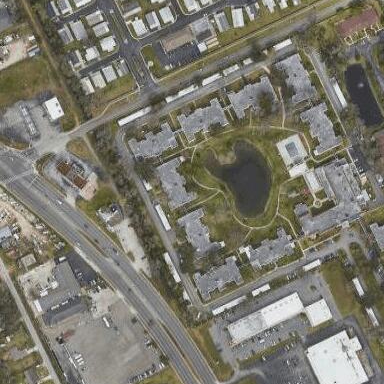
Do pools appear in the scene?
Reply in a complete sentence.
Yes, the picture does show a pool.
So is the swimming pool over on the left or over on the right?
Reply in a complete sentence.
The swimming pool appears in the right half of the scene.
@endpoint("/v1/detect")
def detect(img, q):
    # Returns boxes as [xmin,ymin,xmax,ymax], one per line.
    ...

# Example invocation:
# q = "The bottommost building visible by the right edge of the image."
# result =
[306,330,369,384]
